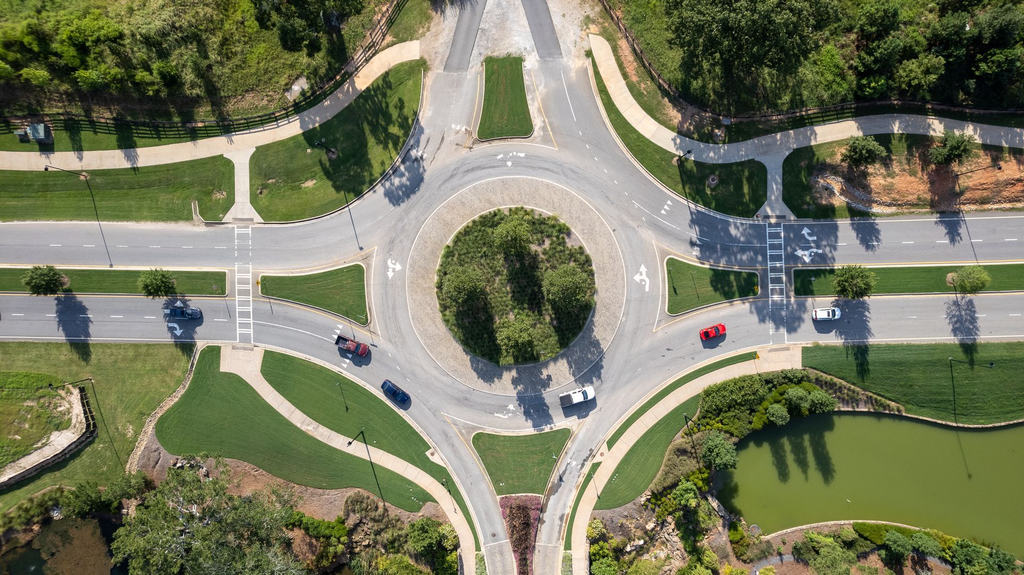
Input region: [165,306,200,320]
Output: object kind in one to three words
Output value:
vehicle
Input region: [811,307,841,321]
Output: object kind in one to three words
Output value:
car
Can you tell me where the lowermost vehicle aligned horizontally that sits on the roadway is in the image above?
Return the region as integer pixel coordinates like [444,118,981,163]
[558,388,596,407]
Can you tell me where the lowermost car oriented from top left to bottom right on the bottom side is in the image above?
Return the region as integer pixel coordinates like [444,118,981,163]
[381,379,409,404]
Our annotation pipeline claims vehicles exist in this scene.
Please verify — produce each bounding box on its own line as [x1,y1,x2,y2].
[558,388,596,407]
[333,333,370,356]
[698,323,726,340]
[165,306,200,320]
[811,307,841,321]
[381,379,409,404]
